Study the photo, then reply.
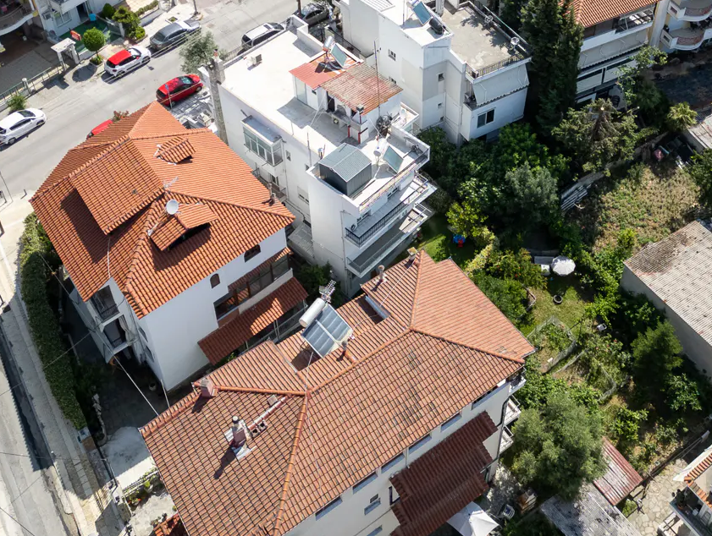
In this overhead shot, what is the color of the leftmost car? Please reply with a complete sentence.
The leftmost car looks white in the image.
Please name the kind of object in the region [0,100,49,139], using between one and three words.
car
